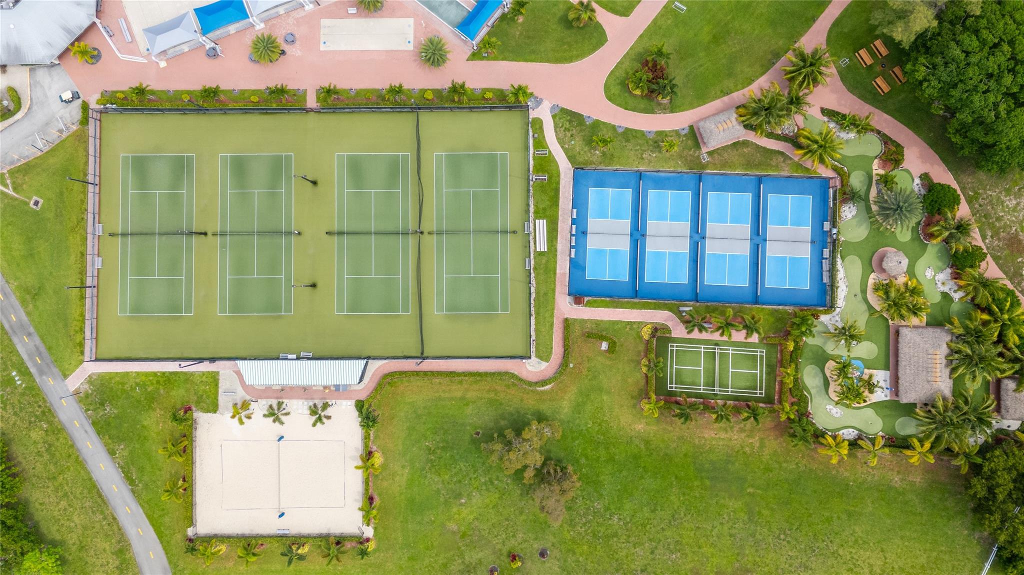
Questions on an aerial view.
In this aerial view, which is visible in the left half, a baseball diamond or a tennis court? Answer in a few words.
tennis court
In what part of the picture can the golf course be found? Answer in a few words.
right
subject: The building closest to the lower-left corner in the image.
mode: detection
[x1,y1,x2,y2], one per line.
[235,359,369,385]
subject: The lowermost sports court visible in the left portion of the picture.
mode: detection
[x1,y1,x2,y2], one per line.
[221,440,345,510]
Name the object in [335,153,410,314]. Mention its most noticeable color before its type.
green tennis court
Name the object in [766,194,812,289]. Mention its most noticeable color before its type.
blue sports court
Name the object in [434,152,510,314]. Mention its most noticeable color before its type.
green tennis court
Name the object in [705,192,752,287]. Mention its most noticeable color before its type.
blue sports court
